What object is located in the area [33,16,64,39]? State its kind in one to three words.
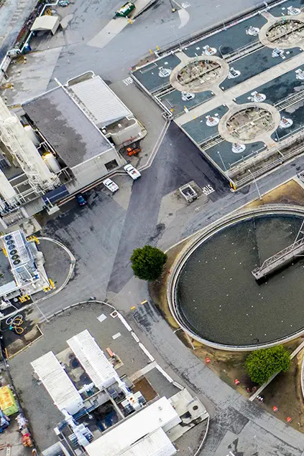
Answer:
shed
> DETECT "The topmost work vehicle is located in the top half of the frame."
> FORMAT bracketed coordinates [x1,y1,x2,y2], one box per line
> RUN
[125,142,144,156]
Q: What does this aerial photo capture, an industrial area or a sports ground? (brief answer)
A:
industrial area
